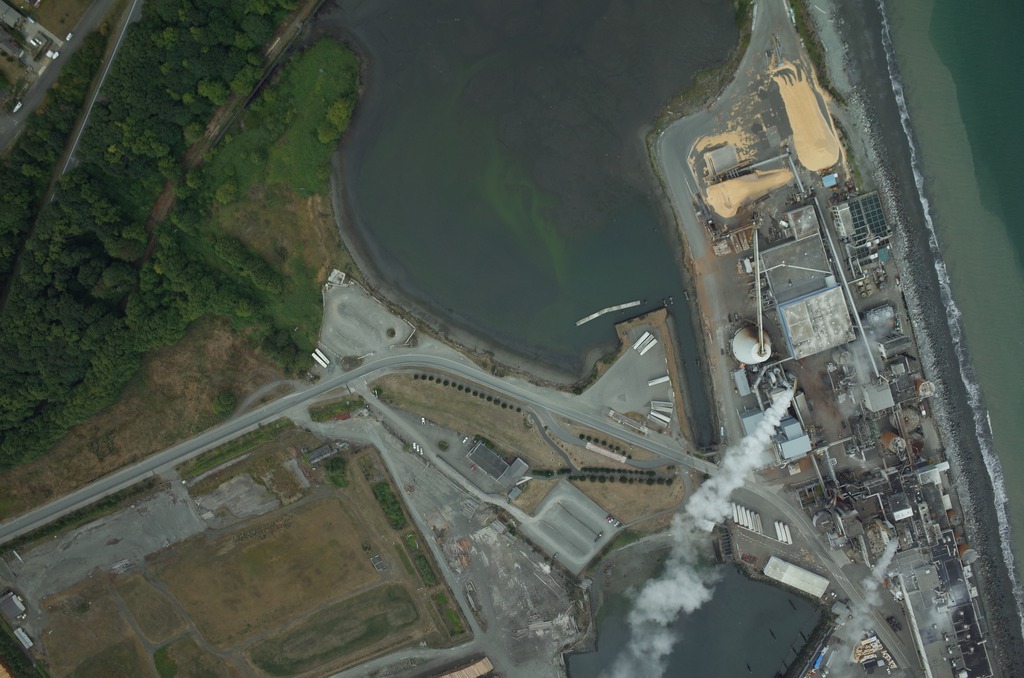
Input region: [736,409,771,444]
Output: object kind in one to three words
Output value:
building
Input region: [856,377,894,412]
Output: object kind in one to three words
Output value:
building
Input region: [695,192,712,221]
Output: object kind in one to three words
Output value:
vehicle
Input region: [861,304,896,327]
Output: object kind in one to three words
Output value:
cooling tower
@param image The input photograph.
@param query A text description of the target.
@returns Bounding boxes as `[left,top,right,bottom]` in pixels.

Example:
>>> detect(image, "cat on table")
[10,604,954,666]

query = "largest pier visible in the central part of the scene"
[576,300,641,327]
